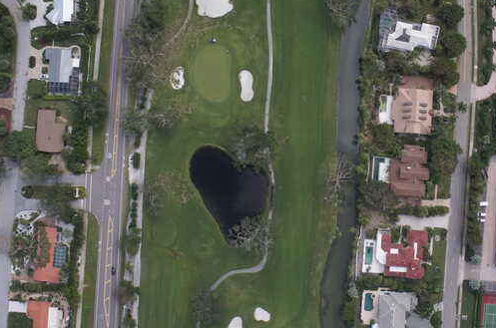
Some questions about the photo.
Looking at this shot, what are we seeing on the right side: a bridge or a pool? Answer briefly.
pool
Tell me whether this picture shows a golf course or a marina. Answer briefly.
golf course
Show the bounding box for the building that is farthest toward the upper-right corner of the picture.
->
[379,9,440,51]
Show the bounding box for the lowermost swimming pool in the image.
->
[361,290,379,325]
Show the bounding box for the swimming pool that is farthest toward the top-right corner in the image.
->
[378,8,397,50]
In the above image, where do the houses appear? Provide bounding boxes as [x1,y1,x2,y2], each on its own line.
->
[46,0,77,24]
[376,230,428,279]
[33,228,68,284]
[44,47,81,95]
[392,88,434,134]
[379,9,440,51]
[389,144,430,199]
[371,290,417,328]
[36,109,67,153]
[27,301,65,328]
